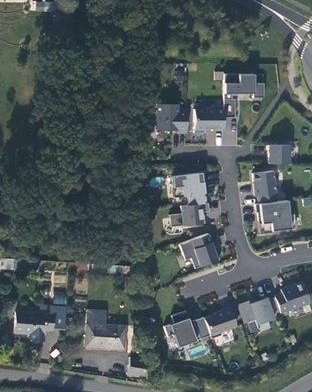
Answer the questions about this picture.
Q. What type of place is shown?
residential area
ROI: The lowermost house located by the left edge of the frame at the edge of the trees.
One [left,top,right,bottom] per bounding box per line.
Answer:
[13,302,68,345]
